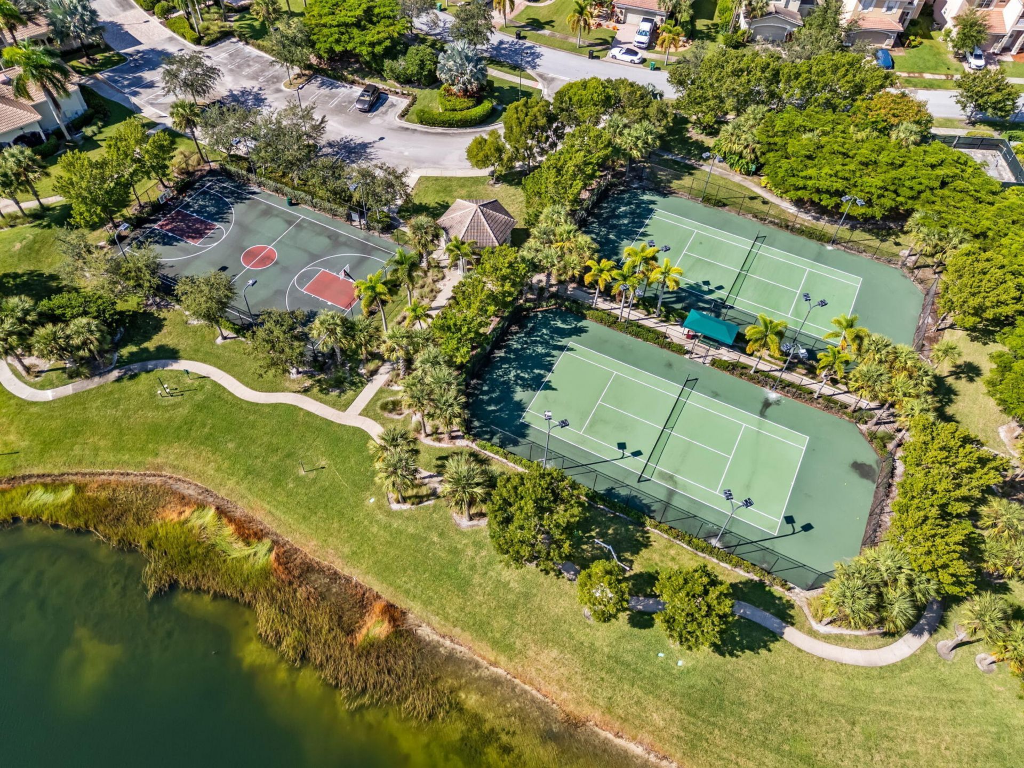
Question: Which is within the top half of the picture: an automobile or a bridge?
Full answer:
It is an automobile that can be seen within the top half of the picture.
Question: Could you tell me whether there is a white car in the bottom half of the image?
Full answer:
No, in the bottom half of the image there is no white car.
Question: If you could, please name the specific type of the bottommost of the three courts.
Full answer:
It looks like the bottommost of the three courts is a tennis court.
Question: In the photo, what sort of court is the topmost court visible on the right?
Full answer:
Specifically, the topmost court visible on the right is a tennis court.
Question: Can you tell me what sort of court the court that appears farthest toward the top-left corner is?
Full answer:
What you see as the court that appears farthest toward the top-left corner is a basketball court.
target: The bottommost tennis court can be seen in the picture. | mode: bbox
[456,307,882,591]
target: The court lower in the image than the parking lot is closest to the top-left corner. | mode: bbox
[87,166,412,373]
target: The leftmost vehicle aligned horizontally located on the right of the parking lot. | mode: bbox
[612,47,646,63]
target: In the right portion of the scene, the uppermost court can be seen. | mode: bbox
[563,183,924,383]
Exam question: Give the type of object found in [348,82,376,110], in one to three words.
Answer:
car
